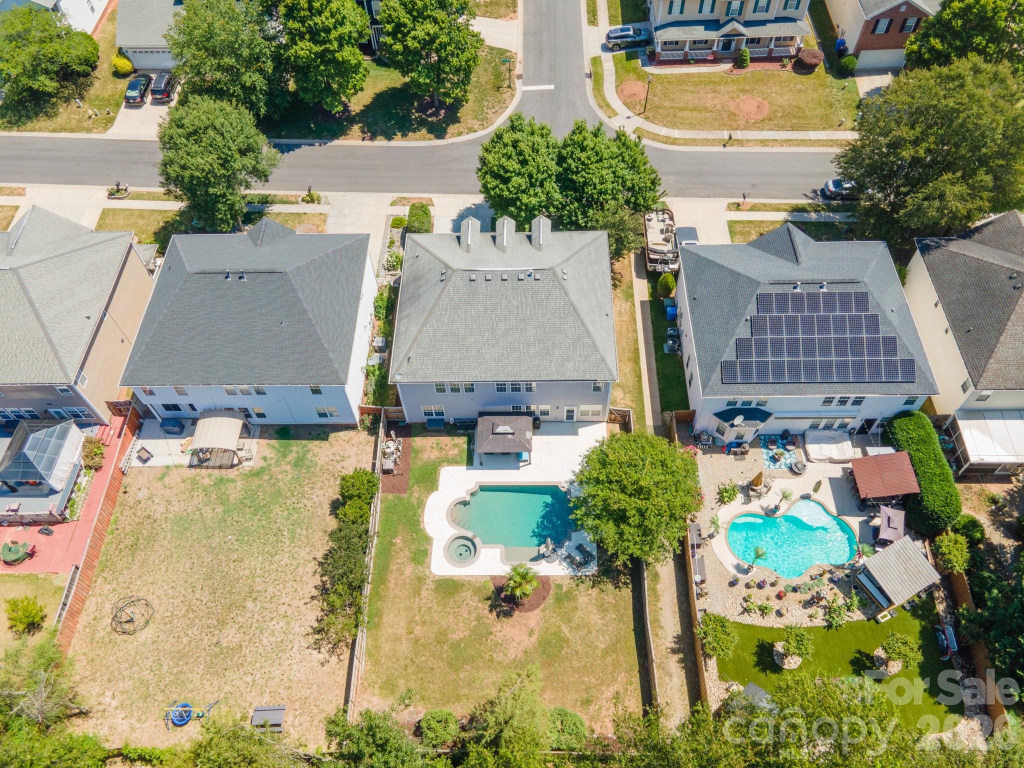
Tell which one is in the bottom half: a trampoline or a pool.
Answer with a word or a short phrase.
pool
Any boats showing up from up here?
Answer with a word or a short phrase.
Yes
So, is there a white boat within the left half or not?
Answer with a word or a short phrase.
No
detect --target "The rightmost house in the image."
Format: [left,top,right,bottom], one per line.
[898,209,1024,477]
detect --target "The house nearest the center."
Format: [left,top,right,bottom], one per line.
[386,215,621,420]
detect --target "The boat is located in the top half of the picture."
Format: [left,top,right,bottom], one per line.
[645,204,680,274]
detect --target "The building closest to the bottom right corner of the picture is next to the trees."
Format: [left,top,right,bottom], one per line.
[851,539,941,613]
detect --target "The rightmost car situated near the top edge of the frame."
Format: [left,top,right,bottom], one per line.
[606,25,651,50]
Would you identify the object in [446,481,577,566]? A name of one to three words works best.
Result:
swimming pool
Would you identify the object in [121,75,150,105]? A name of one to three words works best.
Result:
car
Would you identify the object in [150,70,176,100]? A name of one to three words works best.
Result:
car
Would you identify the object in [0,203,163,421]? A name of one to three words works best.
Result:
house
